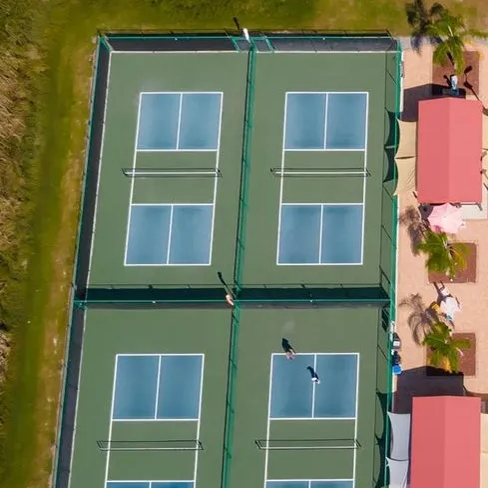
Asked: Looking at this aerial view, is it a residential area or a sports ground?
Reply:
sports ground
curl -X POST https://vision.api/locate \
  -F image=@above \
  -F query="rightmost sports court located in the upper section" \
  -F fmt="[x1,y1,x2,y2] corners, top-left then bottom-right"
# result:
[240,50,400,303]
